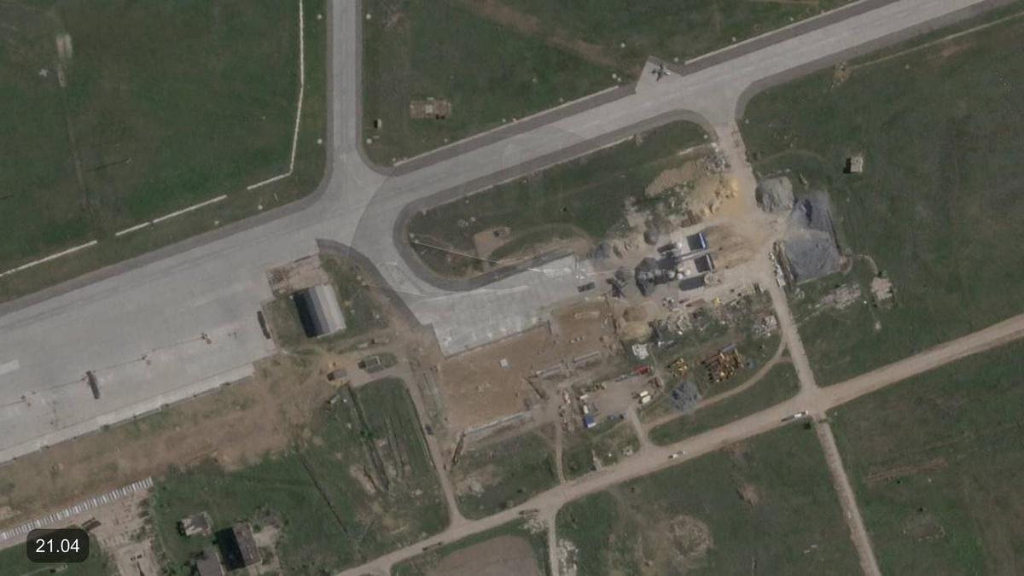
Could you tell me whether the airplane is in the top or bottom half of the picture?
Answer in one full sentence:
It is in the top half that the airplane appears.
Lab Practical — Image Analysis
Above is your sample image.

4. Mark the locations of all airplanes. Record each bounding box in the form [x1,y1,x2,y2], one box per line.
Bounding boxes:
[650,61,671,83]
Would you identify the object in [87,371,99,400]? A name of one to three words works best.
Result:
vehicle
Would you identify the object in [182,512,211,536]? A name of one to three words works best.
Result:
shed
